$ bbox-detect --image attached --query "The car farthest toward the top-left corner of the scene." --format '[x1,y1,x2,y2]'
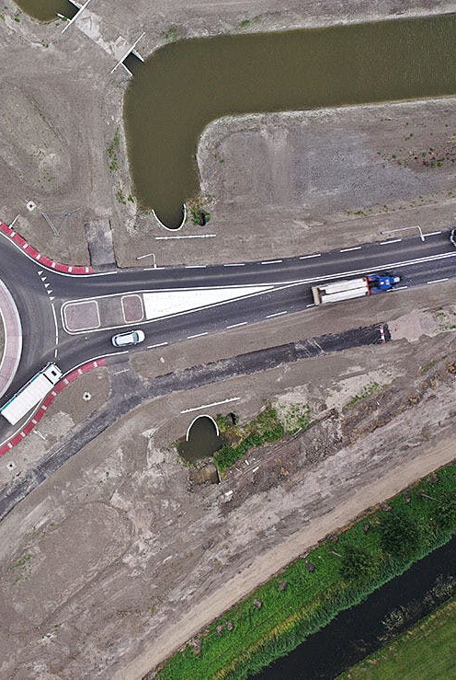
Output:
[111,328,143,346]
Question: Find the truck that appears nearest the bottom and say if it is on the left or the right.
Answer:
left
